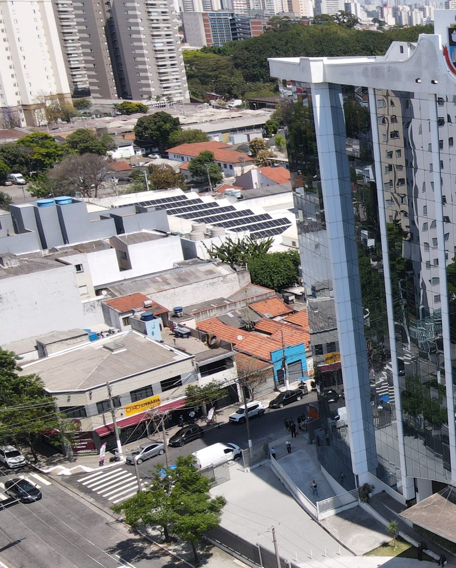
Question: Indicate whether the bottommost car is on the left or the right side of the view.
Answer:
left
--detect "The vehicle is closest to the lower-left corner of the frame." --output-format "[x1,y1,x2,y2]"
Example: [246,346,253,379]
[5,477,42,502]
